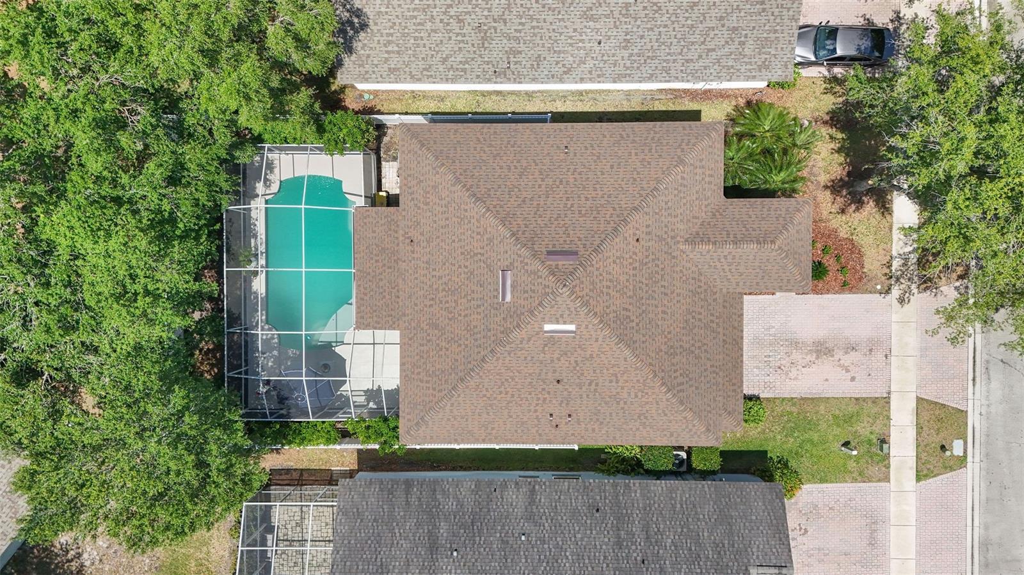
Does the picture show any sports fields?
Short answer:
No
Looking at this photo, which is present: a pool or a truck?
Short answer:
pool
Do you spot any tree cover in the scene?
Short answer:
Yes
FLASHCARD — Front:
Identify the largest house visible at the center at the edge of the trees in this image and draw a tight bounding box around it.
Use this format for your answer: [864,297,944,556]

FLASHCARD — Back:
[355,121,813,447]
